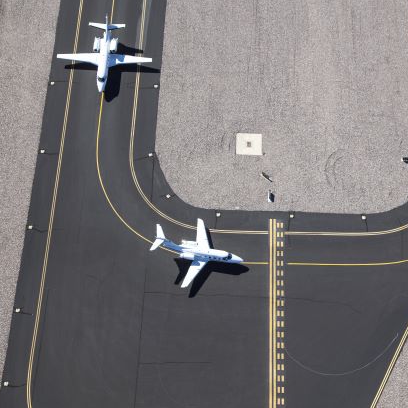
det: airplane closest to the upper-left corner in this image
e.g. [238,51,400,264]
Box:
[57,19,153,92]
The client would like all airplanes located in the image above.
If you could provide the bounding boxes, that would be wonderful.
[57,19,153,92]
[150,219,245,287]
